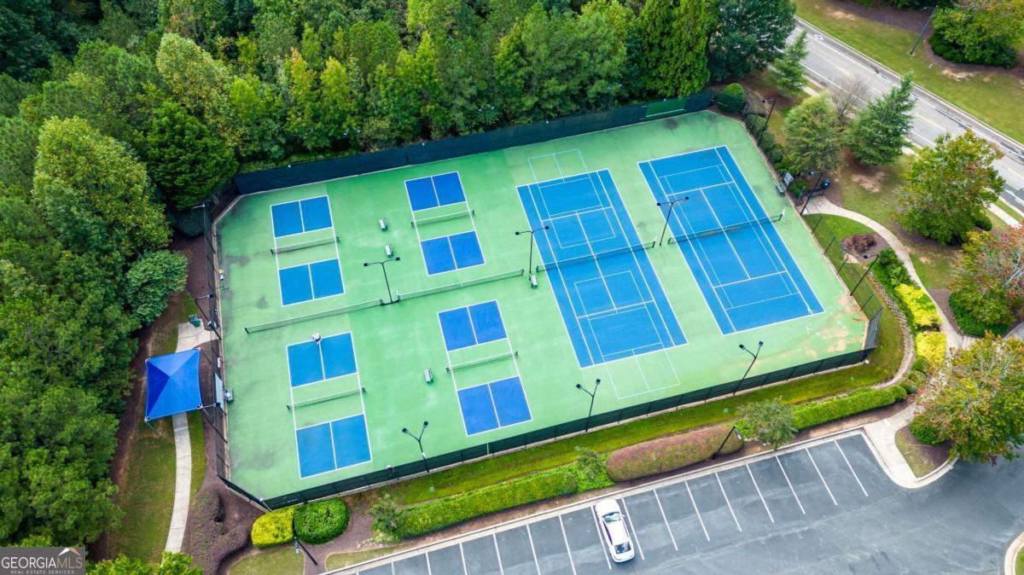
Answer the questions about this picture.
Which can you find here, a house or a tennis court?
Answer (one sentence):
The one in the frame is a tennis court.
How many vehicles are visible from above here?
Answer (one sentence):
In total, there is 1 vehicle in the scene.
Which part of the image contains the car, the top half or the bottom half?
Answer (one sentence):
The bottom half of the photo is where the car is.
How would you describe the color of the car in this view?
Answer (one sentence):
In this view, the car is white.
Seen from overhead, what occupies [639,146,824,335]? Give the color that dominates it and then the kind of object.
blue tennis court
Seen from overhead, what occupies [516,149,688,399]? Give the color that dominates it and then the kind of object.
blue tennis court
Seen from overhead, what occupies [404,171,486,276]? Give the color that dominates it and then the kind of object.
blue sports court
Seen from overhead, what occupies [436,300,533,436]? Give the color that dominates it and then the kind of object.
blue sports court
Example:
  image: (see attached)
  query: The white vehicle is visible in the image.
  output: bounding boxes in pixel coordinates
[599,496,634,561]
